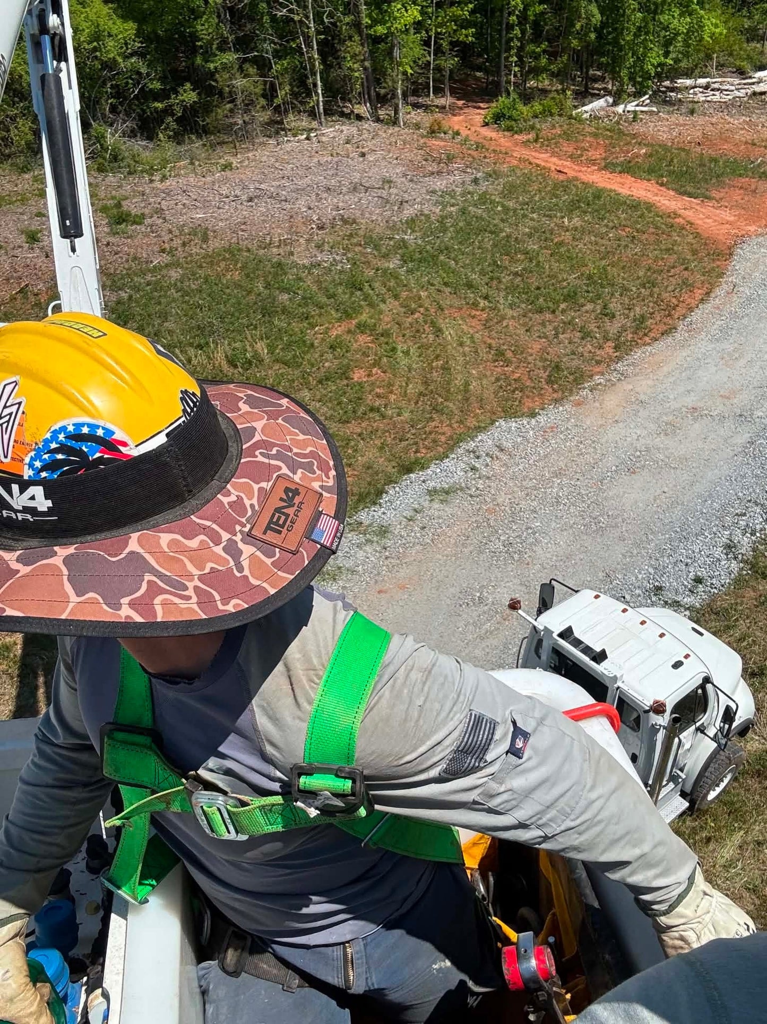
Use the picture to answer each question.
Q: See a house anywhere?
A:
No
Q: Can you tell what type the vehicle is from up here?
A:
truck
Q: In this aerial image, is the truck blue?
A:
No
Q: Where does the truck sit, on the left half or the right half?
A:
right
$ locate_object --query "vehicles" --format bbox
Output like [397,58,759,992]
[507,579,754,817]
